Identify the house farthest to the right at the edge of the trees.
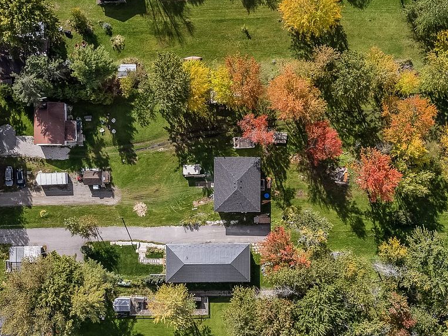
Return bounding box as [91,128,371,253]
[214,157,271,224]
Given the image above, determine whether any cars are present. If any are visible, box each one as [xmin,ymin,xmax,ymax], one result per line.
[15,167,25,187]
[4,166,14,187]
